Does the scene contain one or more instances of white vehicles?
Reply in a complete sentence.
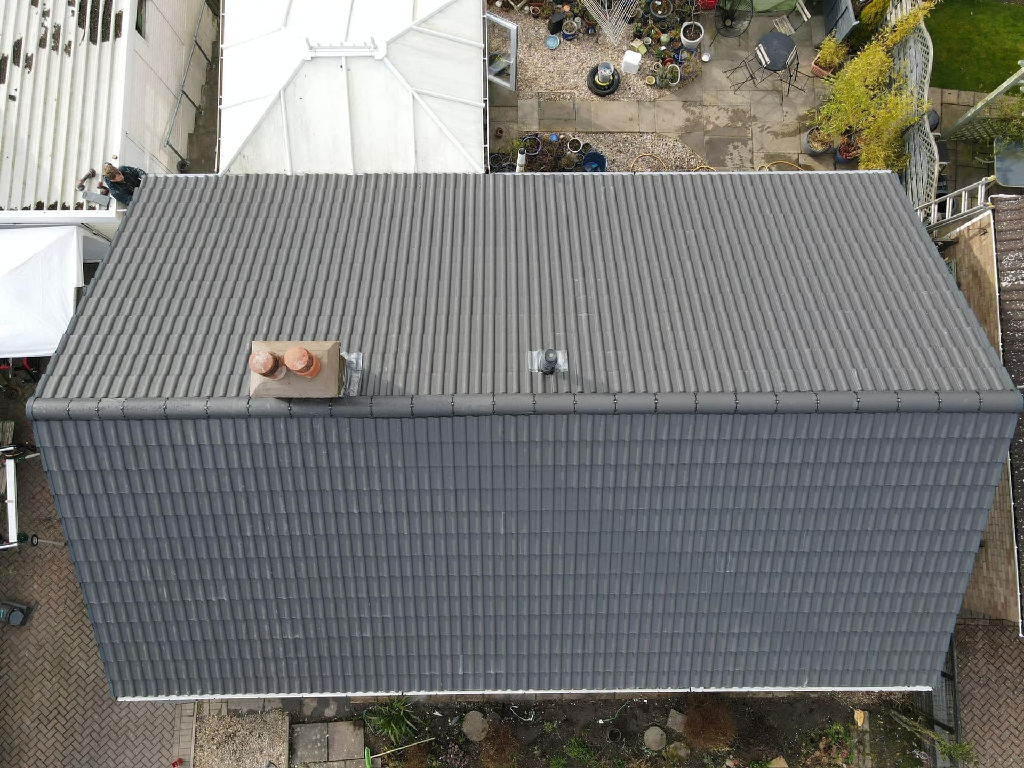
No, I find no white vehicle anywhere in the image.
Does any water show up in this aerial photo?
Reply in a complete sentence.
No, the picture contains no water.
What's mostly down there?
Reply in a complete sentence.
Most of the picture is covered by buildings.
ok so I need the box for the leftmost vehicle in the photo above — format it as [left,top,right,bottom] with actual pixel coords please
[15,353,39,383]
